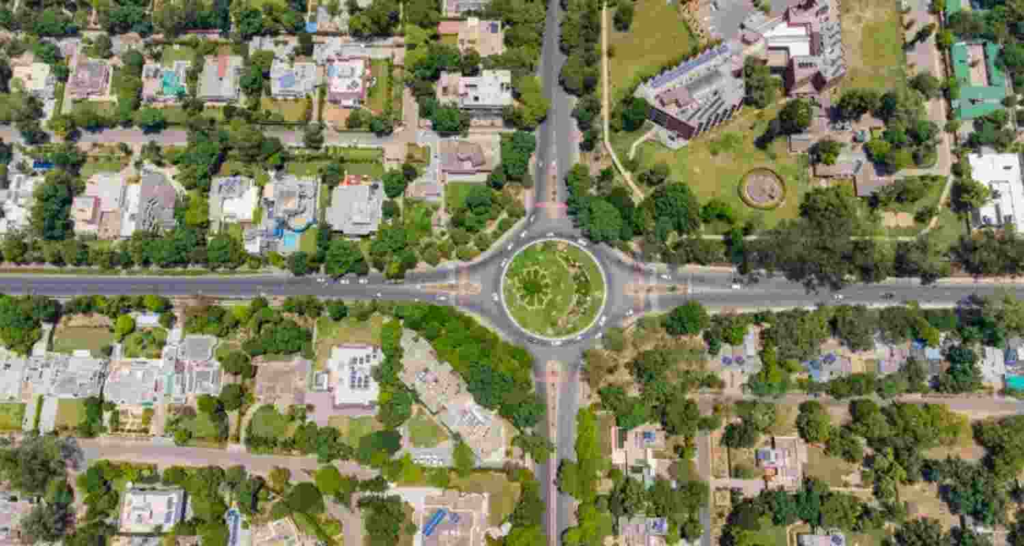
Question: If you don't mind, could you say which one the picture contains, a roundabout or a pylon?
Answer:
roundabout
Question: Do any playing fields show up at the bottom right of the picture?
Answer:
No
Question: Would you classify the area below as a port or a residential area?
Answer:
residential area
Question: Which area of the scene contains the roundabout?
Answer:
center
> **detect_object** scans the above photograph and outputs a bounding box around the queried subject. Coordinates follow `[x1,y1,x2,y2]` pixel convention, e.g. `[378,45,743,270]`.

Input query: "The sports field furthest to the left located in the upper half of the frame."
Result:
[607,0,683,87]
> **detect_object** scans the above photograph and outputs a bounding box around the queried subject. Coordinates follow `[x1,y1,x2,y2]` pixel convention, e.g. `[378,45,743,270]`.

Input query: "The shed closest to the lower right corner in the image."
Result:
[960,511,989,531]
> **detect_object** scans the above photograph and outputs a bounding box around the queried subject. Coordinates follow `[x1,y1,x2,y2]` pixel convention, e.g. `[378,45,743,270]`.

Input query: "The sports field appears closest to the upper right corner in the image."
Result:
[843,0,902,91]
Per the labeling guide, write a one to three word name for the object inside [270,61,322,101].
house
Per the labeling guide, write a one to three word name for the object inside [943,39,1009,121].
house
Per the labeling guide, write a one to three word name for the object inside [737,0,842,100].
building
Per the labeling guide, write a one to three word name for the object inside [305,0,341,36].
shed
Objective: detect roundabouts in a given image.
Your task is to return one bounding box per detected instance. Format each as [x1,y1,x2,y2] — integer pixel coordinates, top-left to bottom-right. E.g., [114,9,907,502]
[502,237,606,341]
